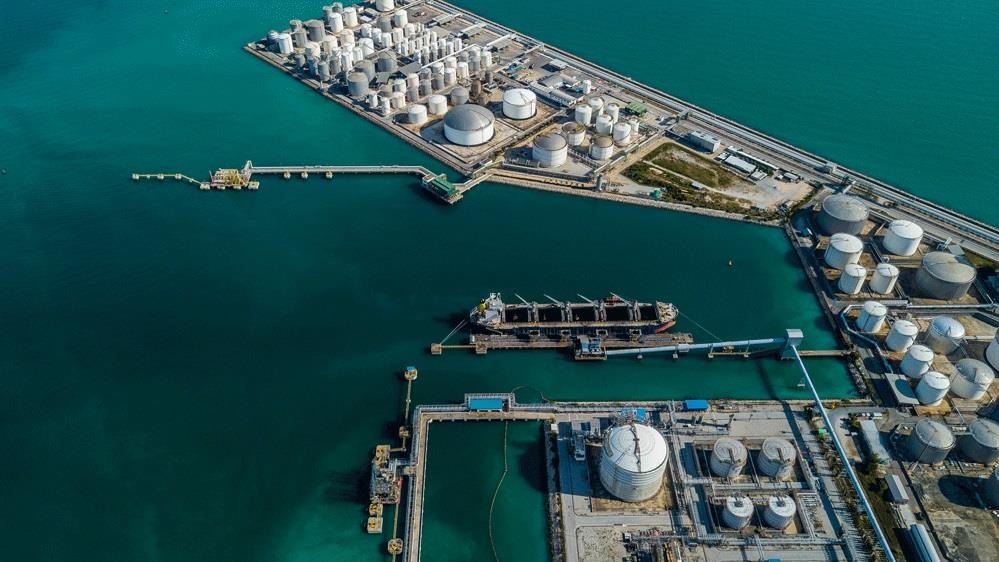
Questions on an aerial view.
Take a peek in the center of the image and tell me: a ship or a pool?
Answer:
ship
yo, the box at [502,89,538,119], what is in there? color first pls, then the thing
white storage tank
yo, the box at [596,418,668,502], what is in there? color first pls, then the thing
white storage tank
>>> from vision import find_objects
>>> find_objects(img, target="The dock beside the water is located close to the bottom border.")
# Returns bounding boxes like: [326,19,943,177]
[408,411,557,562]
